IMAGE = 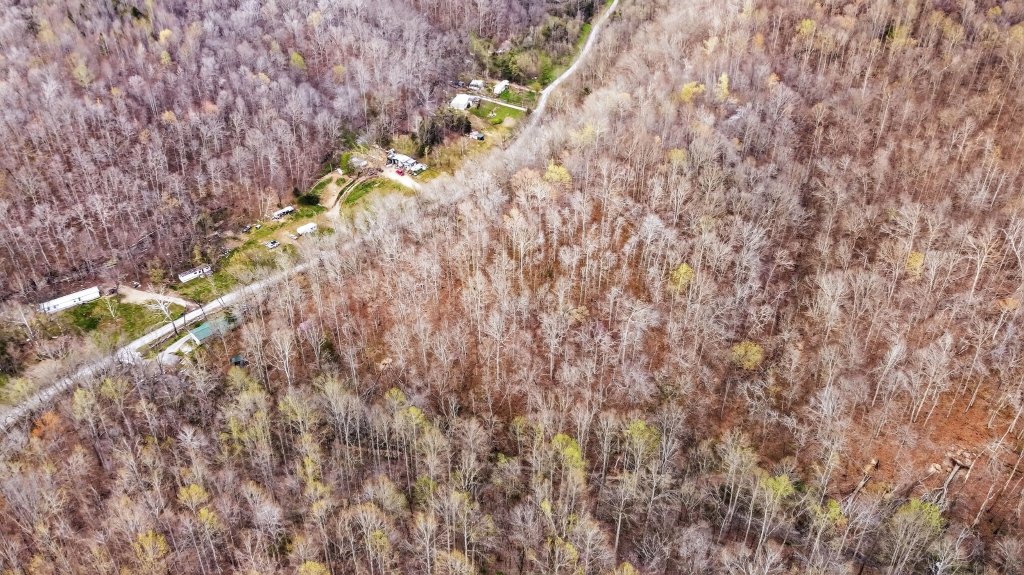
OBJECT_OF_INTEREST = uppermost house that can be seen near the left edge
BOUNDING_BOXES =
[41,286,100,314]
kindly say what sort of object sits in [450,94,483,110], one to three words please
barn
